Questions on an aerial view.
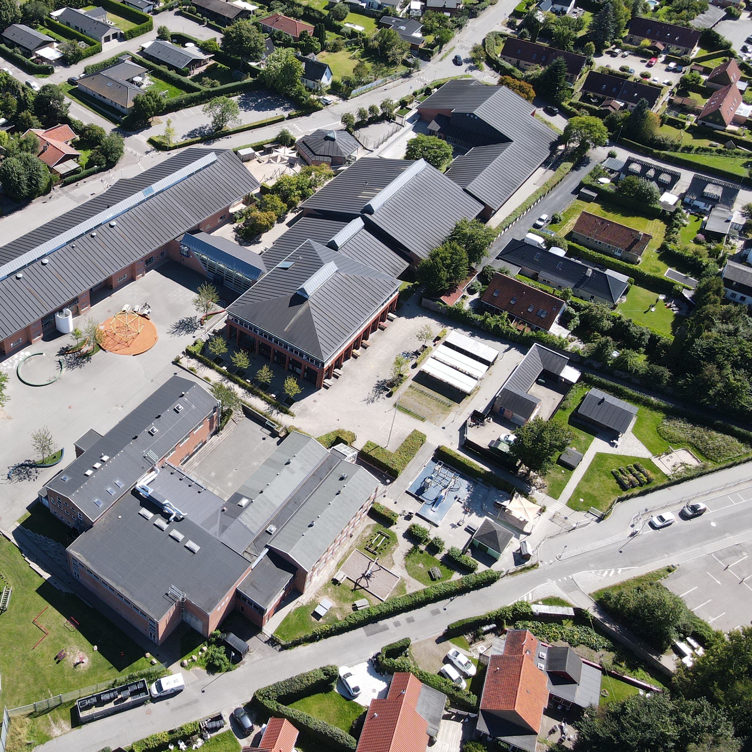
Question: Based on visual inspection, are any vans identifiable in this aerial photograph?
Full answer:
Yes, you can see a van in this photo.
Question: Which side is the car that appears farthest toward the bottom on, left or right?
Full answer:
The car that appears farthest toward the bottom appears in the left half of the scene.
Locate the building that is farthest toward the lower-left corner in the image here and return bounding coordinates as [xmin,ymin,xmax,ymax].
[75,681,150,725]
